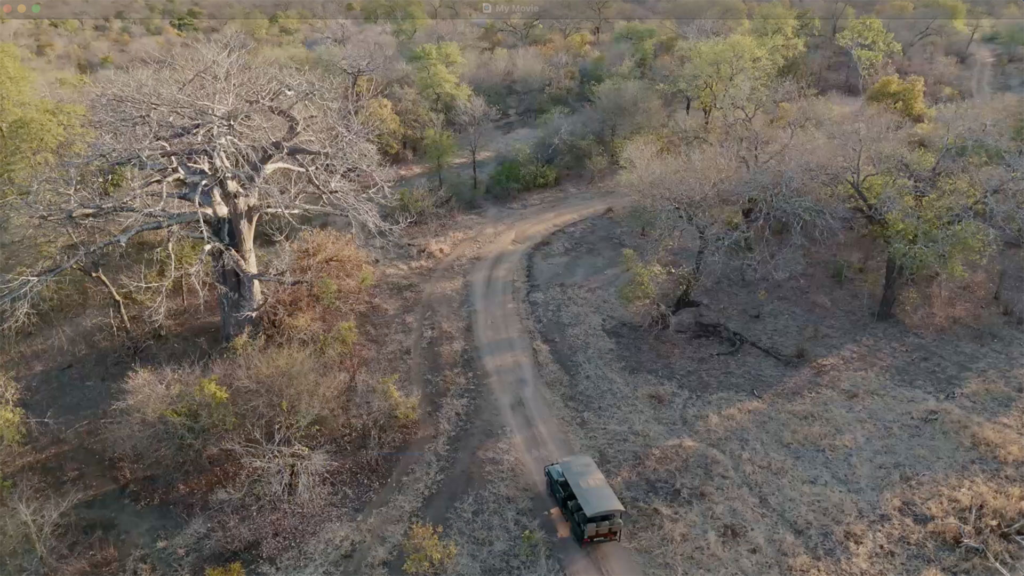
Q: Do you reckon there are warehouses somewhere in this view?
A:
No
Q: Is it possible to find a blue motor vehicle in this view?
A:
No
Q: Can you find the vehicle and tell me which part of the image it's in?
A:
bottom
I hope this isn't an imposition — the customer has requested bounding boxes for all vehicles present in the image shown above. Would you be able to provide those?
[547,451,624,547]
